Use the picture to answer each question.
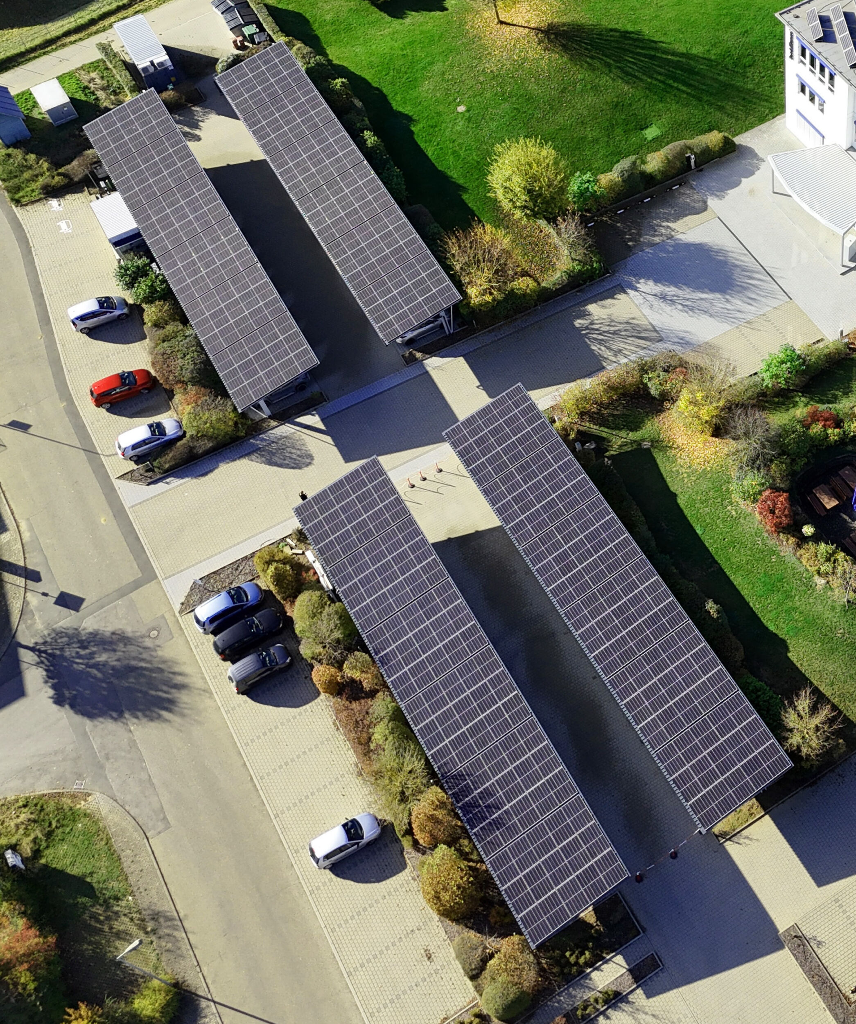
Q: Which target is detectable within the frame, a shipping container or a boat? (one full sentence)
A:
Looking from above, you can make out a shipping container.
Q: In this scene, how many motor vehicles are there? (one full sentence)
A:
Altogether the scene contains 9 motor vehicles.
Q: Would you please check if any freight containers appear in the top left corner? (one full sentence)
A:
Yes, in the top left corner there is a freight container.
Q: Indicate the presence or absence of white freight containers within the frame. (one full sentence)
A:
Yes, the image includes a white freight container.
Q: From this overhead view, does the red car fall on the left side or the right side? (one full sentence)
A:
You can find the red car on the left side of the picture.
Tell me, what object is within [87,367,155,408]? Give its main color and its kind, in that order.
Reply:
red car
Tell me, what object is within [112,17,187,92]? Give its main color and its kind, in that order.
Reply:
white shipping container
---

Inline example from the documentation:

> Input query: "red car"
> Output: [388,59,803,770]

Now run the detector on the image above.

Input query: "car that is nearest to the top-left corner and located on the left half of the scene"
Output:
[65,294,130,334]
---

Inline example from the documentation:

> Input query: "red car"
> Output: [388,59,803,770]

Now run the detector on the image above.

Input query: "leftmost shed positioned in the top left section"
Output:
[0,83,31,145]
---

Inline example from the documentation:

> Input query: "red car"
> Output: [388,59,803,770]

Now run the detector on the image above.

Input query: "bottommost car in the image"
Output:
[302,813,382,870]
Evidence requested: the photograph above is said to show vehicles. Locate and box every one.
[302,813,382,870]
[398,312,454,345]
[190,582,262,632]
[87,367,155,408]
[258,374,313,406]
[208,608,281,658]
[65,294,130,334]
[221,642,290,692]
[114,418,182,460]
